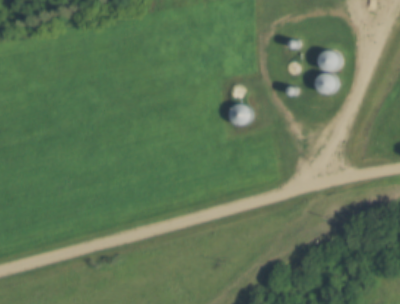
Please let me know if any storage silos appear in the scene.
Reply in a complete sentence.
Yes, this view includes a storage silo.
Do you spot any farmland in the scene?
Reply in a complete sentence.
Yes, the picture does contain farmland.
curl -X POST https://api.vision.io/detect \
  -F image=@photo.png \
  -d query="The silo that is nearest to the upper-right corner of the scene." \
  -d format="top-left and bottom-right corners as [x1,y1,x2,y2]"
[318,49,344,72]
